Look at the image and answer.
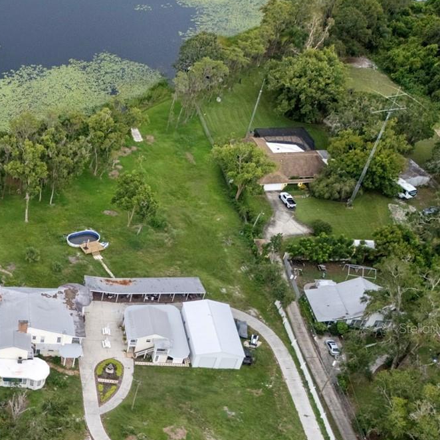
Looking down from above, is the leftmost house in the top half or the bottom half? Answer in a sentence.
The leftmost house is in the bottom half of the image.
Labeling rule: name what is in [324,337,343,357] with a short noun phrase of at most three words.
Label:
car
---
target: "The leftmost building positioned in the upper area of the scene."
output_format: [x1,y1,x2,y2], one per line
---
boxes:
[251,116,329,193]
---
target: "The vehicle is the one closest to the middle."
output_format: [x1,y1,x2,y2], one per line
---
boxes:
[279,191,299,207]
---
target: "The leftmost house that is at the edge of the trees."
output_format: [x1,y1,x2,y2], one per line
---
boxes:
[0,283,93,391]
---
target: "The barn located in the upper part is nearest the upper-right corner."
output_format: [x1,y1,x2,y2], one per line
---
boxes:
[395,163,432,187]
